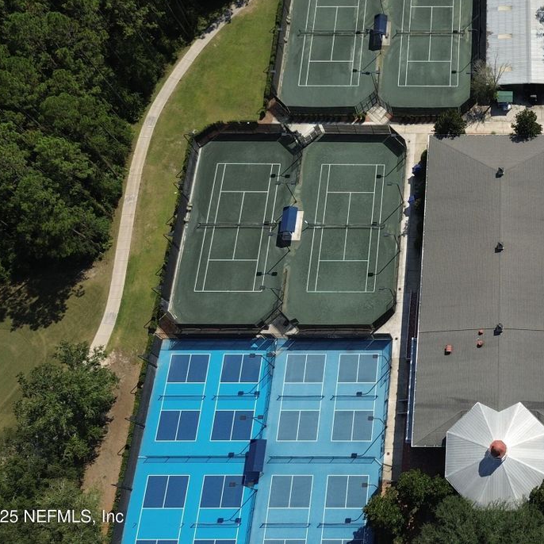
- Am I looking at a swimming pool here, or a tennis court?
tennis court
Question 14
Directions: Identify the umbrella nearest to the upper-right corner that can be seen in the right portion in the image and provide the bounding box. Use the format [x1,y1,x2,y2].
[410,164,424,177]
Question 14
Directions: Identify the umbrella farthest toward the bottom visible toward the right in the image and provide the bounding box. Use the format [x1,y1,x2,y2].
[405,194,420,208]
